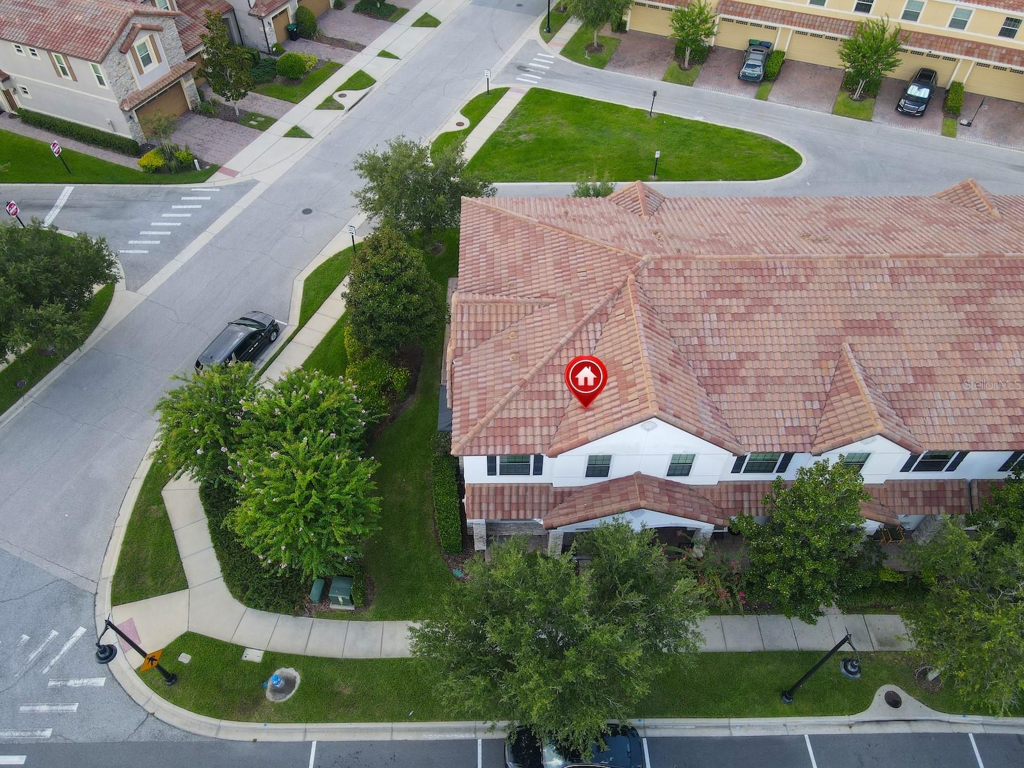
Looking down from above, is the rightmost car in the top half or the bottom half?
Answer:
top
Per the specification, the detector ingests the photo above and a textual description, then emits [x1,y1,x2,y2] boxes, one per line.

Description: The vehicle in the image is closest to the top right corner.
[903,69,936,115]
